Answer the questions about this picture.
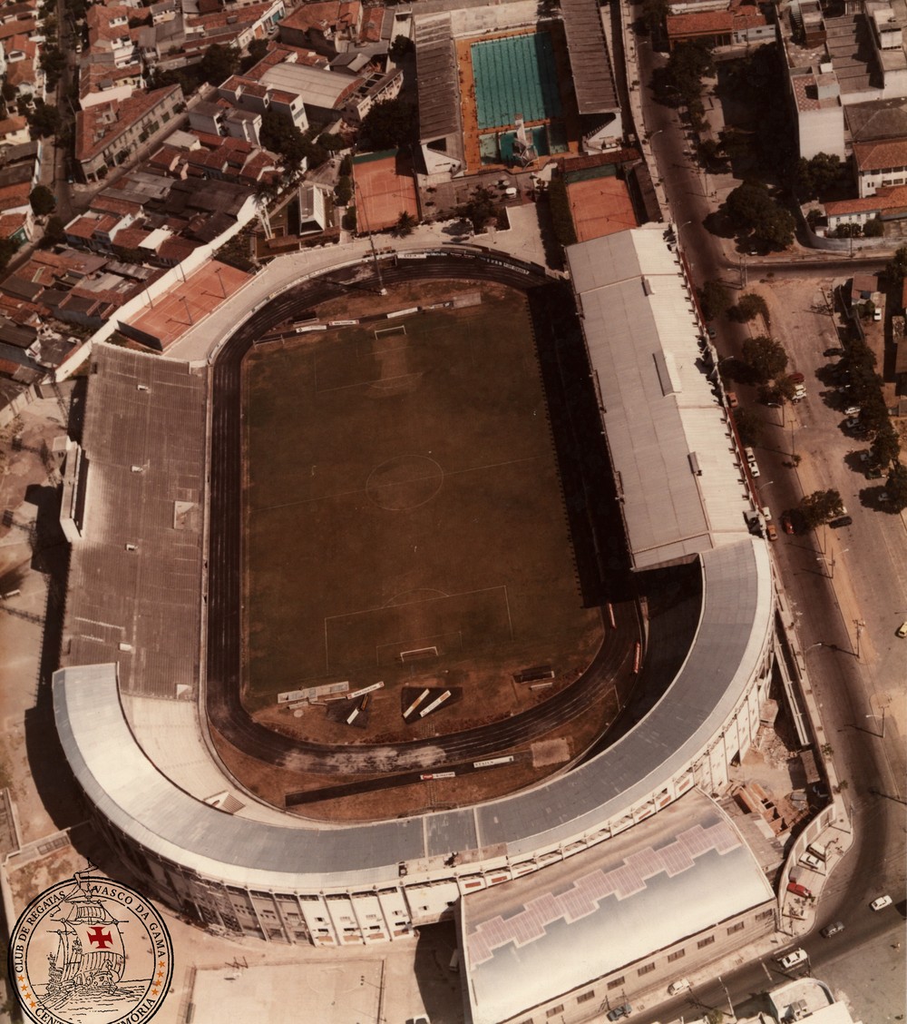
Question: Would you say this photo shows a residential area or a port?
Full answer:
The area seen from above is a residential area.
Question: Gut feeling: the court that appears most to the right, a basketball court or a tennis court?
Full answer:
From above, the court that appears most to the right can be identified as a tennis court.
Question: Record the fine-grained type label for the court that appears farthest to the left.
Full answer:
I'd identify the court that appears farthest to the left as a tennis court.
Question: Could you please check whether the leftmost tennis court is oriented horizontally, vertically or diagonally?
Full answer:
The leftmost tennis court runs diagonally in the image.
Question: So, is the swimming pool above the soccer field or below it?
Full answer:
The swimming pool is located above the soccer field in this view.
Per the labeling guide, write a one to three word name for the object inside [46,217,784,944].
stadium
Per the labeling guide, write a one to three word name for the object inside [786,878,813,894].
vehicle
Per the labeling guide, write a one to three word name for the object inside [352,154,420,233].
tennis court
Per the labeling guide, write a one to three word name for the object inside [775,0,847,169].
building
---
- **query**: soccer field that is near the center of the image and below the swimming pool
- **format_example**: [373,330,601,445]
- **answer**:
[243,268,590,747]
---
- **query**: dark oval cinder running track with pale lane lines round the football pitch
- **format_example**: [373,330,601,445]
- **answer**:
[209,248,625,778]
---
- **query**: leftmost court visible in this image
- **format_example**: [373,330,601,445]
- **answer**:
[129,261,253,348]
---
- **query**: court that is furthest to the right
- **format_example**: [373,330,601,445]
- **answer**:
[568,177,636,240]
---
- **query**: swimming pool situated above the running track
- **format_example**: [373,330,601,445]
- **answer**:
[453,19,587,169]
